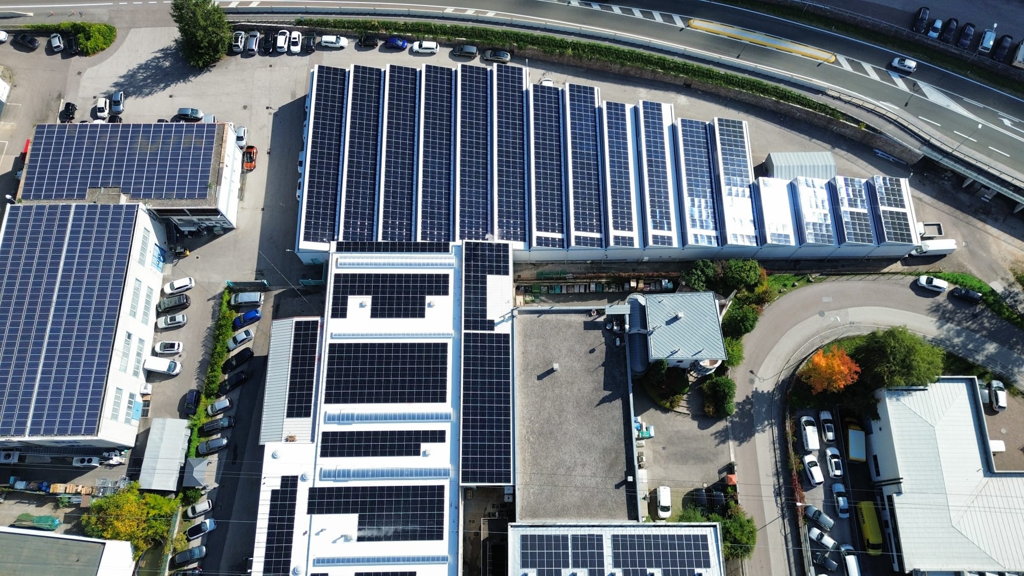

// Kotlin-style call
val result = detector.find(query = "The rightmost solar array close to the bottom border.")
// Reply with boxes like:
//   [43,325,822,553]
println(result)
[612,535,710,576]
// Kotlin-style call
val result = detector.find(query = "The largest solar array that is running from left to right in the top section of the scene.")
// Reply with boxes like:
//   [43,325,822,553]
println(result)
[20,123,216,198]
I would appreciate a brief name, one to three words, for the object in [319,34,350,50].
car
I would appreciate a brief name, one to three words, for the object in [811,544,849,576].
truck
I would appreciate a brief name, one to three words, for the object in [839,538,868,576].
van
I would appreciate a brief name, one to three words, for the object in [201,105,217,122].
vehicle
